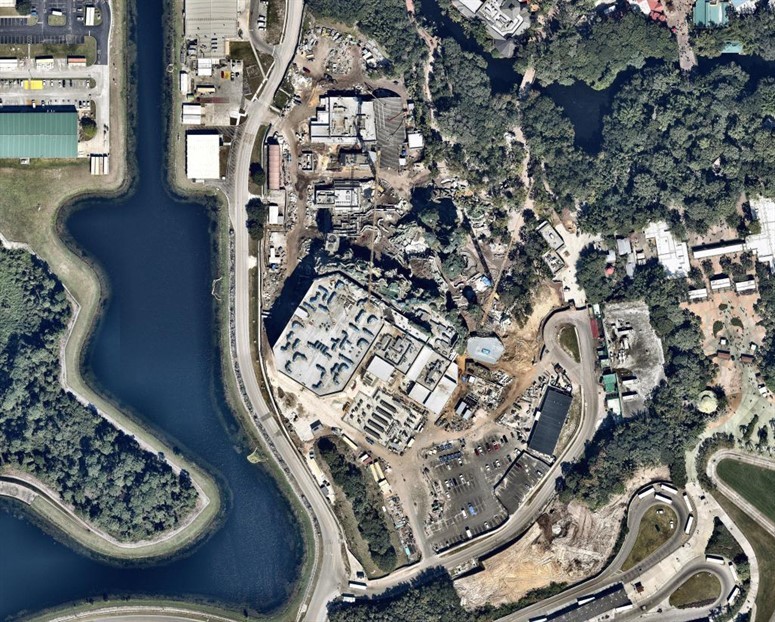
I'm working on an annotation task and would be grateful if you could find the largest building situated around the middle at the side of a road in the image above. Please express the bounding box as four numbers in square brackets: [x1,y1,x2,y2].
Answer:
[272,273,384,397]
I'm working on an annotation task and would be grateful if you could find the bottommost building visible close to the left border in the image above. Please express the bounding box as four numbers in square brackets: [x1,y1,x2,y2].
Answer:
[0,111,78,158]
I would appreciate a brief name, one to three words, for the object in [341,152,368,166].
building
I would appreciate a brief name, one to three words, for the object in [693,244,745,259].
building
